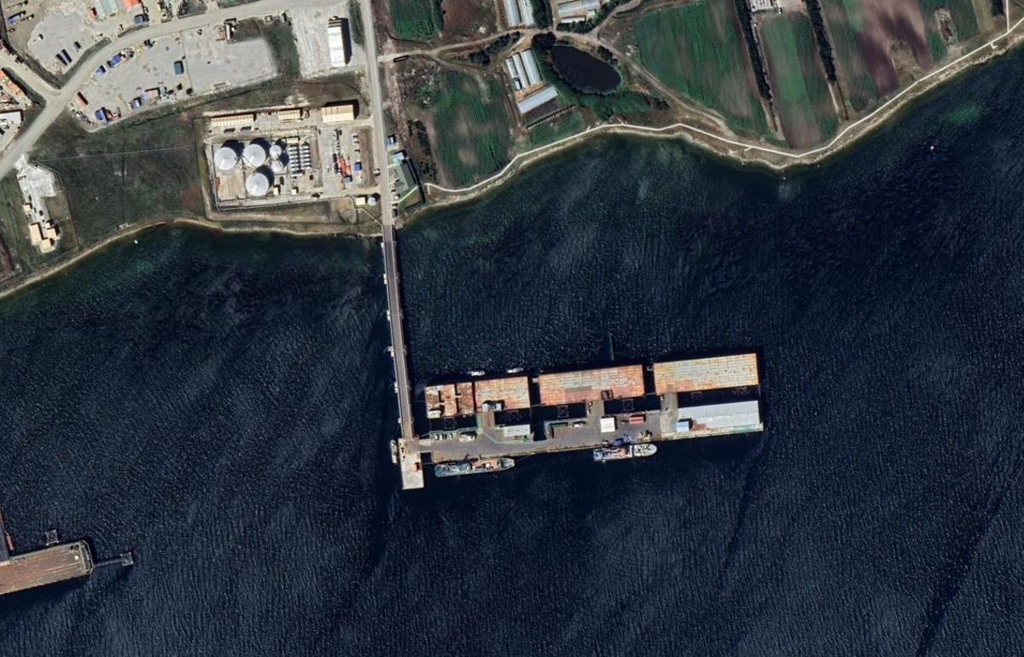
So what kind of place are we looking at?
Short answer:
port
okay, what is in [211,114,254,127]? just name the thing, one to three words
building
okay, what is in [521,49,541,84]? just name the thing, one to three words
greenhouse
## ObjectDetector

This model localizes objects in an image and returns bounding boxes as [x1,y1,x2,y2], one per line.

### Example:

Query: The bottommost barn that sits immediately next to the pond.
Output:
[517,85,558,113]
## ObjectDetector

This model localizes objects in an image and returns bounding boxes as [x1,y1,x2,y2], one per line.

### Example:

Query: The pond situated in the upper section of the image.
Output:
[550,44,623,93]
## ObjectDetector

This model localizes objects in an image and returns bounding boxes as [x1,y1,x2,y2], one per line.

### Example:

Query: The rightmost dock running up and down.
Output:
[382,224,416,439]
